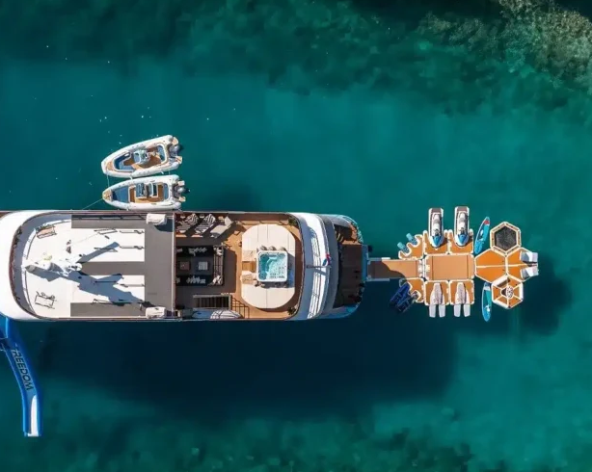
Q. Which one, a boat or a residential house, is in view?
boat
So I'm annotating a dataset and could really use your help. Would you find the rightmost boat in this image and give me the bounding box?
[453,208,468,247]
